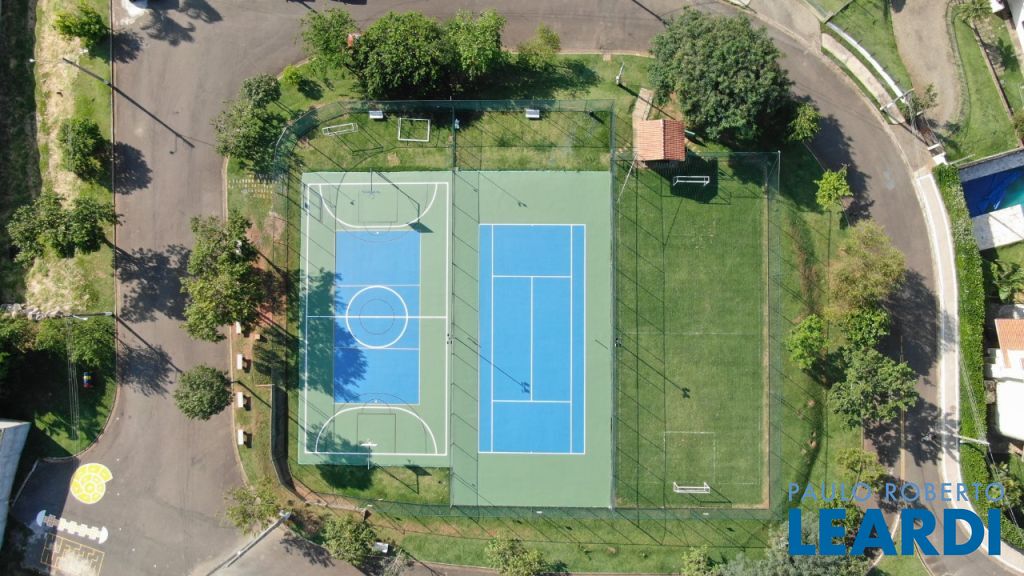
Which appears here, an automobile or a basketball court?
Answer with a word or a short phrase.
basketball court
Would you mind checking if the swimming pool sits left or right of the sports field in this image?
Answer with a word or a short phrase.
on its right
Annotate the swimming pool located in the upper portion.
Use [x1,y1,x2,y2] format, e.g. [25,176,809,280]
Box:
[964,150,1024,251]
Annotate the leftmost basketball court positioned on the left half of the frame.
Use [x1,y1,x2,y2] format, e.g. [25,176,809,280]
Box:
[298,171,453,466]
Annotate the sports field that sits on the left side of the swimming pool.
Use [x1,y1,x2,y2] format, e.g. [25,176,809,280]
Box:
[613,160,766,506]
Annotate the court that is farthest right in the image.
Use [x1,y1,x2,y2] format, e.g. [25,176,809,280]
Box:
[453,171,611,507]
